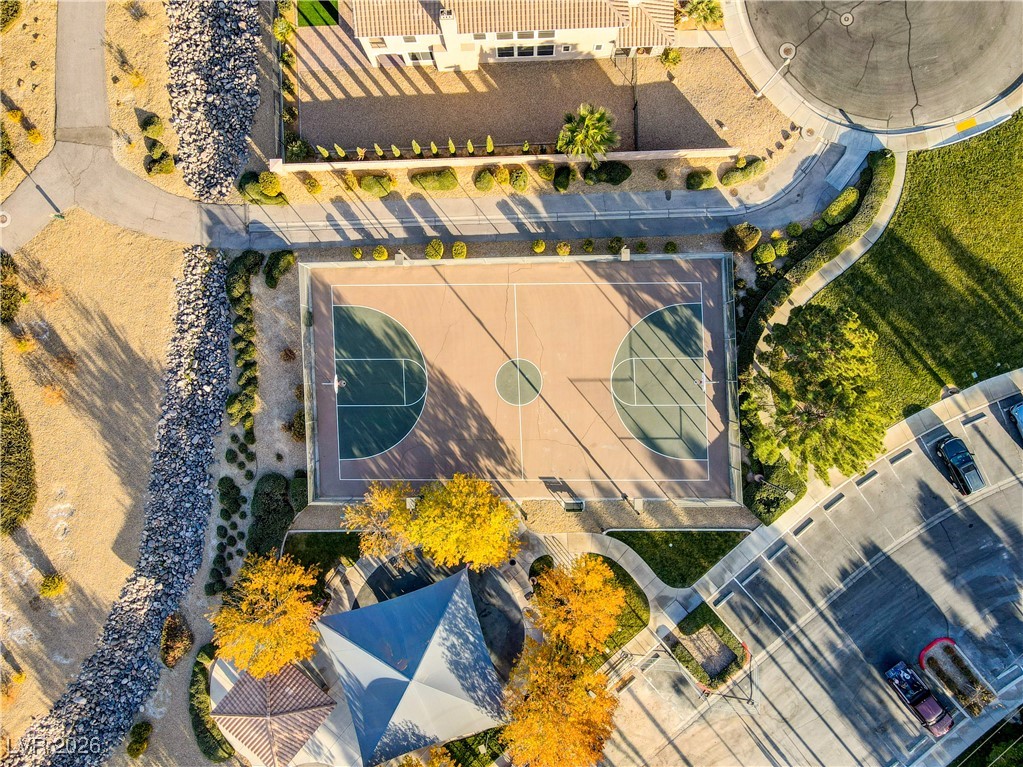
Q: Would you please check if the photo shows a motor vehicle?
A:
Yes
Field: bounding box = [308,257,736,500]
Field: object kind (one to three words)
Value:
basketball court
